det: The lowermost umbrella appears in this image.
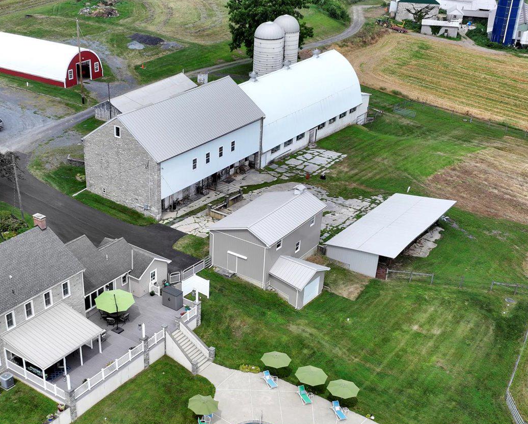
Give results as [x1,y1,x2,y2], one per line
[188,394,222,424]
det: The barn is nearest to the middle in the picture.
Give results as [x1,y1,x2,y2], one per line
[206,182,326,312]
